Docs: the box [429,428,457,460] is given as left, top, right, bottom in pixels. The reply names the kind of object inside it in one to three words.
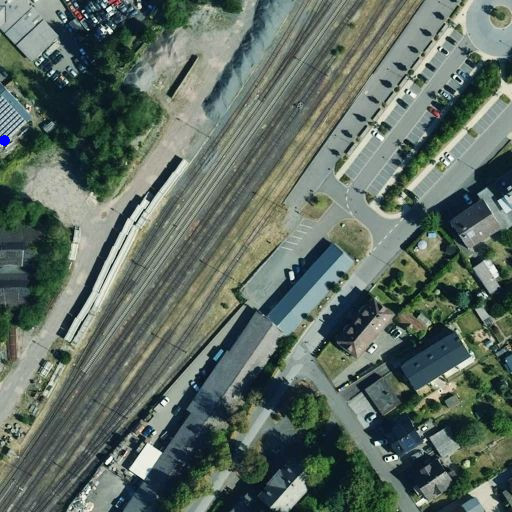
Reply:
shed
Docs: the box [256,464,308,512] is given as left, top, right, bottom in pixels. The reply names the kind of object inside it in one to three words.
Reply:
house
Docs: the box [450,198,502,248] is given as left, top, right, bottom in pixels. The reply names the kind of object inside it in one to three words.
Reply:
house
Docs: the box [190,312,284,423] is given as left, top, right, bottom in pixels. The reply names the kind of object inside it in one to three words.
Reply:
building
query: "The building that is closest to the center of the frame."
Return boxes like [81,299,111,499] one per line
[267,244,353,336]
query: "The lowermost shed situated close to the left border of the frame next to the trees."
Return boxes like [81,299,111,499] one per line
[0,273,29,306]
